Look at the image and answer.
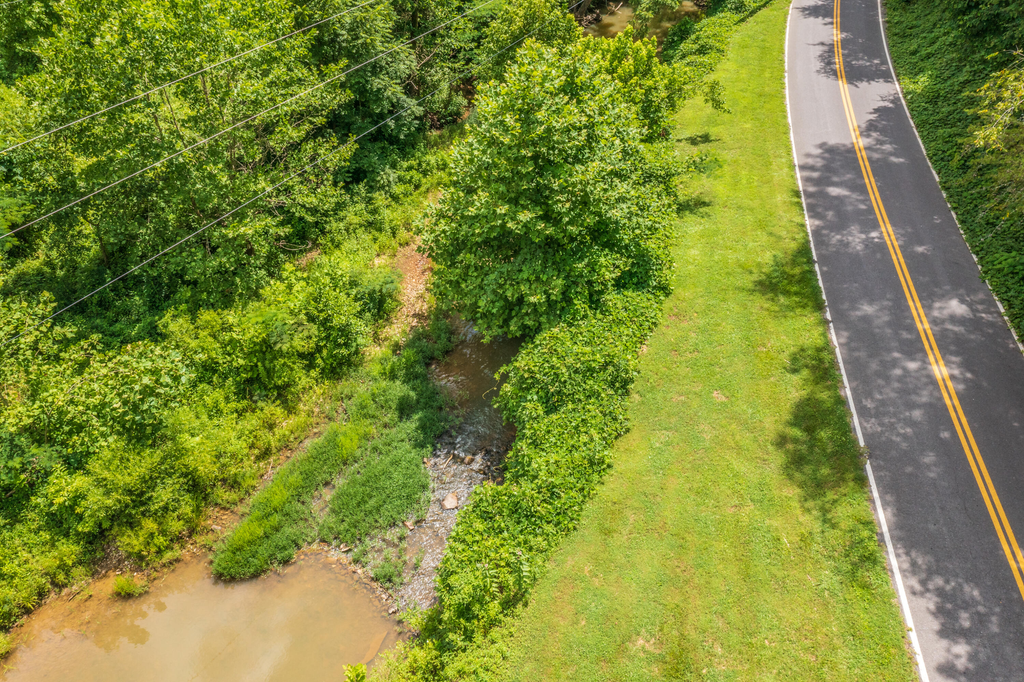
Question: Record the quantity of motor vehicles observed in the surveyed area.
none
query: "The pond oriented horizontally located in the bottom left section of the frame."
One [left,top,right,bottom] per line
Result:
[0,569,395,682]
